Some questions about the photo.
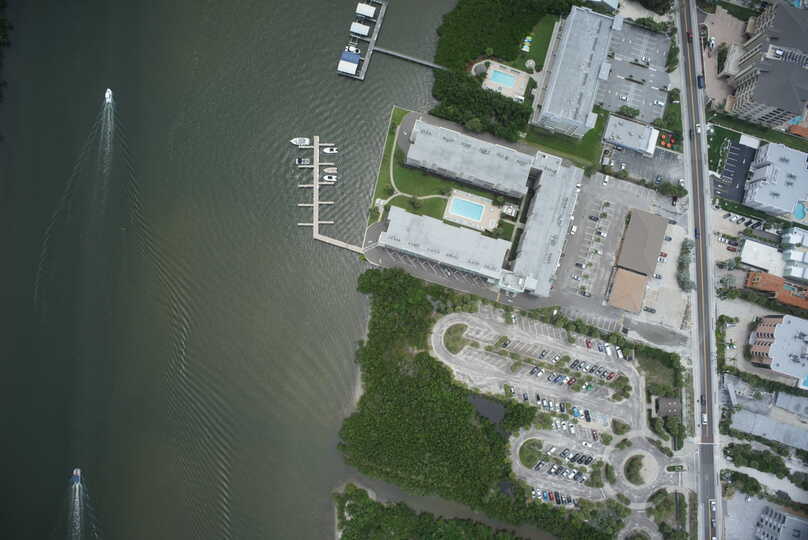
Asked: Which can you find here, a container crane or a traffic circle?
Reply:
traffic circle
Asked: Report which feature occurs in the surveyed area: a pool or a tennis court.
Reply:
pool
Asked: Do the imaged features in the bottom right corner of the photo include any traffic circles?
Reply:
Yes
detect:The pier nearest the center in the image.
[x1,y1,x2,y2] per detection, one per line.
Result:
[298,135,363,253]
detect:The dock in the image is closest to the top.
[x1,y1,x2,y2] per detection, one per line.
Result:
[336,0,447,81]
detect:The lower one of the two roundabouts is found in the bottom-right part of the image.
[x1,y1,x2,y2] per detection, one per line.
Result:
[614,516,658,540]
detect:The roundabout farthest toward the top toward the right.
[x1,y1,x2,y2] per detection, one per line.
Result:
[612,438,671,501]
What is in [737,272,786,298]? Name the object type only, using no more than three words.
house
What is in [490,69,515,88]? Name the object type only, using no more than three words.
swimming pool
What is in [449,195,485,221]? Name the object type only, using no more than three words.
swimming pool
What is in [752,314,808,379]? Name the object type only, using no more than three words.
building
